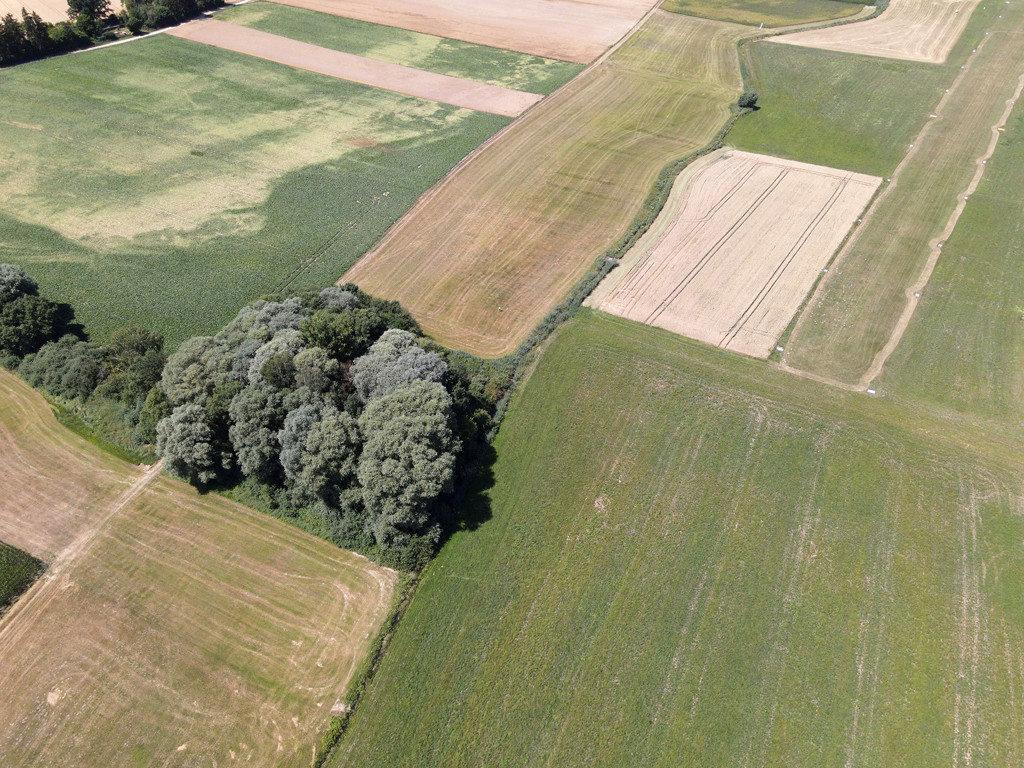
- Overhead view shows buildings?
No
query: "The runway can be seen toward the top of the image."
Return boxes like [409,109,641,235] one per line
[783,0,1024,384]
